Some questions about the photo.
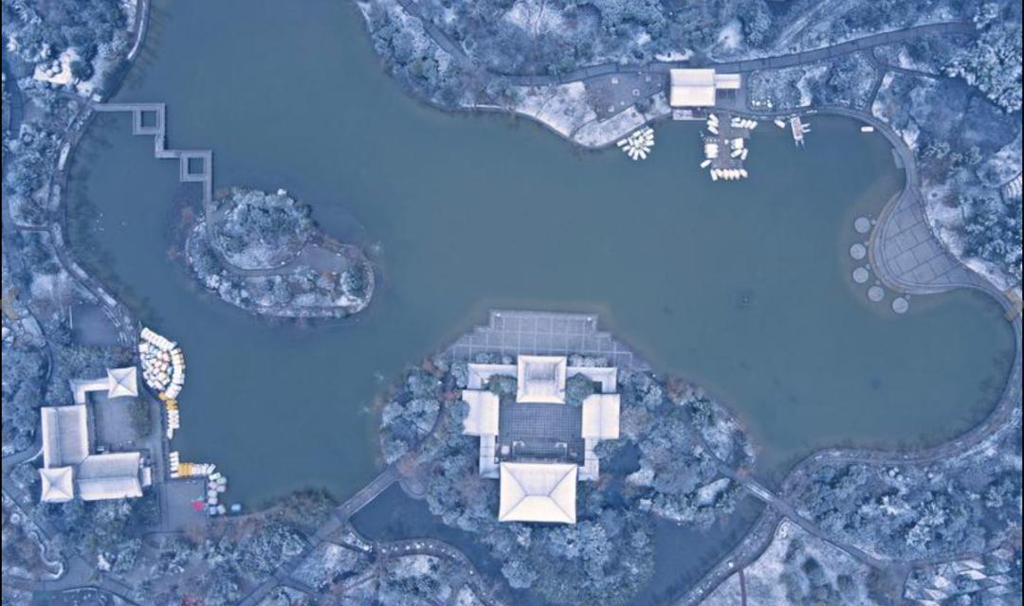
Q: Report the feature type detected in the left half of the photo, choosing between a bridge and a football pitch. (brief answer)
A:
bridge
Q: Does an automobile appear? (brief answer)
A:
No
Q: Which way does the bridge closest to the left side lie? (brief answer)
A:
diagonally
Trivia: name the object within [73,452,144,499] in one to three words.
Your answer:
building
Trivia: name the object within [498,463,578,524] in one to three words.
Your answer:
building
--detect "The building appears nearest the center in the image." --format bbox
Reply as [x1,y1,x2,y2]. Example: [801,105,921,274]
[516,355,568,404]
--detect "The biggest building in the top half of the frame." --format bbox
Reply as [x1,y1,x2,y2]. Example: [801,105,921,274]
[670,69,717,106]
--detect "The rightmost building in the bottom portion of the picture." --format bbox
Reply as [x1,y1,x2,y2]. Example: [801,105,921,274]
[582,394,620,440]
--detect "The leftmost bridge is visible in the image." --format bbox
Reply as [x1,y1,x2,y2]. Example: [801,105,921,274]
[91,103,213,207]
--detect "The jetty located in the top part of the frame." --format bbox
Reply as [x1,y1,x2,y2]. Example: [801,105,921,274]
[703,113,750,169]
